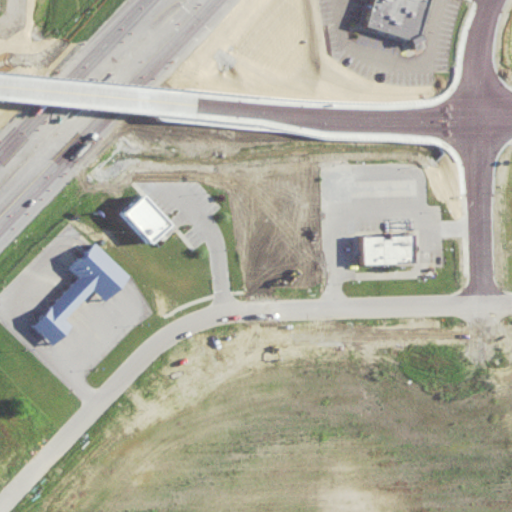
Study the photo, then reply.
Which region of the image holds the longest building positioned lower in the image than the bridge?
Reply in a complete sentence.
You can find the longest building positioned lower in the image than the bridge in the left area of the picture.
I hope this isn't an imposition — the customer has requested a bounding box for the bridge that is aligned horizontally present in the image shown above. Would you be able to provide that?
[0,74,198,121]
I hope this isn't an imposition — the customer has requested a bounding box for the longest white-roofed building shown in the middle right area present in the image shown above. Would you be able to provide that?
[360,235,416,266]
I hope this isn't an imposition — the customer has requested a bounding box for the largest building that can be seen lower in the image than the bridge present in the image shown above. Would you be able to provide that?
[32,244,130,344]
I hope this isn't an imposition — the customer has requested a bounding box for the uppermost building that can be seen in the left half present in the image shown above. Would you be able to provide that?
[122,196,174,244]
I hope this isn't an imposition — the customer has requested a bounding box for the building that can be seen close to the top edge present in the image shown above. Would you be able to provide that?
[363,0,432,57]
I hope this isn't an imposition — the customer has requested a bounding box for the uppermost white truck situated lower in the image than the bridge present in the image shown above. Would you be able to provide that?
[72,134,98,162]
